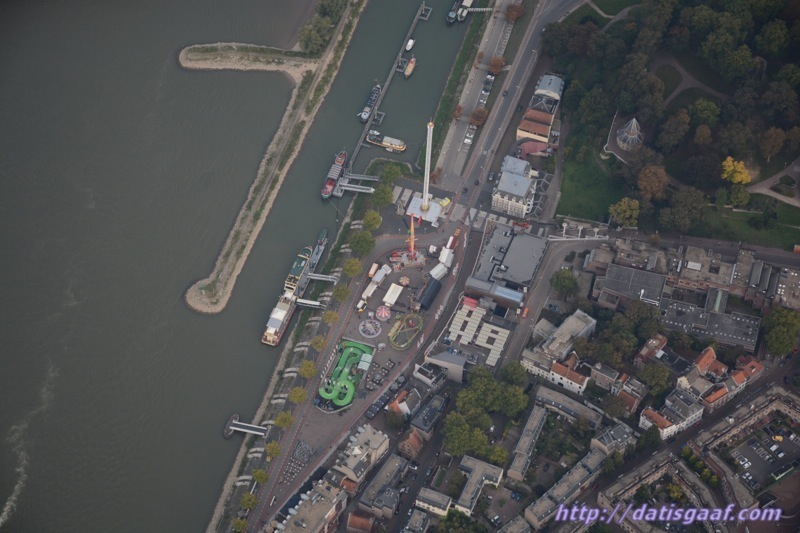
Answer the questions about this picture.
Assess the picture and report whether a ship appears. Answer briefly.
Yes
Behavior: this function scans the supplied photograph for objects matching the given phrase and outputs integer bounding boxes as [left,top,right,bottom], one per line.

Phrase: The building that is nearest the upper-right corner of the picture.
[618,114,646,151]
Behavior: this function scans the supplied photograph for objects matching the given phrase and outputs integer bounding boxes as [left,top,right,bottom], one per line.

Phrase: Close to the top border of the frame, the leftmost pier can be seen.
[349,0,427,165]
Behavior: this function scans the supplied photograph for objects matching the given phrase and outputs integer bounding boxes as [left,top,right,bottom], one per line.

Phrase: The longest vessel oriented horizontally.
[366,133,407,149]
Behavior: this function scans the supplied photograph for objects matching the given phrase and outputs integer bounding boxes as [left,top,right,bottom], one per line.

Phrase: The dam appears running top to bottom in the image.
[179,0,362,313]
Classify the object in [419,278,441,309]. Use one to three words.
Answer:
tent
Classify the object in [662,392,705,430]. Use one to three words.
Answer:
house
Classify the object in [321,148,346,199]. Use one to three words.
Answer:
boat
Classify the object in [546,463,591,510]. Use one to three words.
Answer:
building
